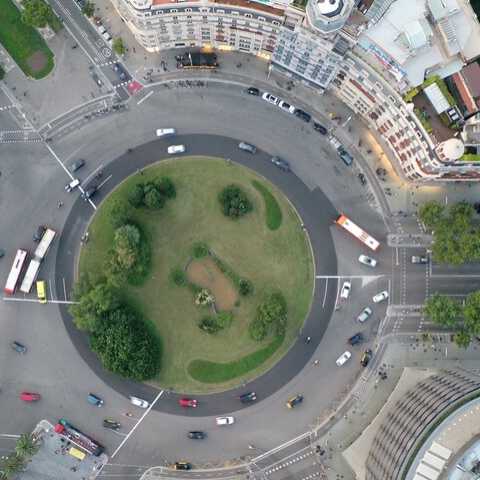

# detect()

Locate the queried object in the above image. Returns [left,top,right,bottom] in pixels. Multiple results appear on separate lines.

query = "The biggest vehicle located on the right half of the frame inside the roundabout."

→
[331,211,381,253]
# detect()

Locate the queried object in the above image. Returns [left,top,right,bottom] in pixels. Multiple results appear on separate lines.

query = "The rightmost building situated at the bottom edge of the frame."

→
[342,367,480,480]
